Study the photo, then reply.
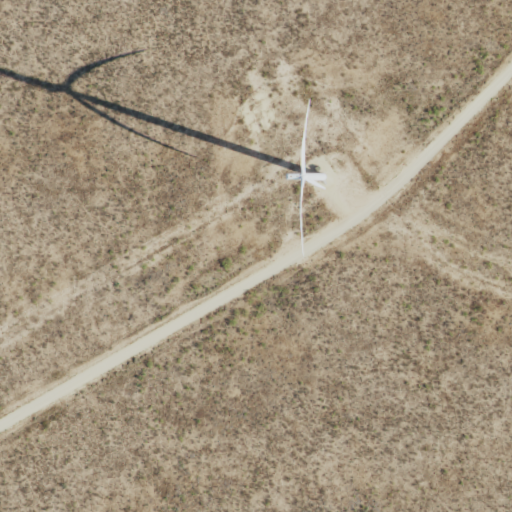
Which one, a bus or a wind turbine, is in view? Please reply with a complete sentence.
Of the two, only a wind turbine appears.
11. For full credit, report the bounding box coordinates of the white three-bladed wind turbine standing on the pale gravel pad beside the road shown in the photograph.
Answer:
[287,97,330,256]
